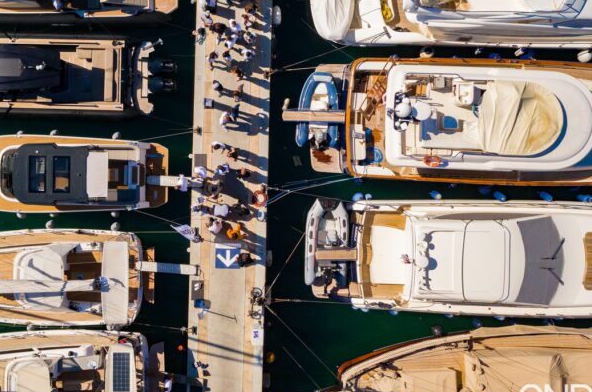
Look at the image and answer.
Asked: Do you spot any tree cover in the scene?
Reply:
No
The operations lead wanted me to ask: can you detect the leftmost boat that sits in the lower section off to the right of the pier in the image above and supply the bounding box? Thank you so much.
[304,198,349,288]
